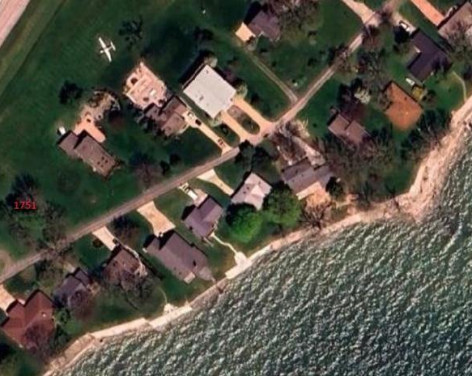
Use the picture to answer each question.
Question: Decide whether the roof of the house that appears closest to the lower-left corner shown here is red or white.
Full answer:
The color of the roof of the house that appears closest to the lower-left corner is red.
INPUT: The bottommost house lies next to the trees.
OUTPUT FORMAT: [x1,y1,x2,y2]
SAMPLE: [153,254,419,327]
[2,294,59,350]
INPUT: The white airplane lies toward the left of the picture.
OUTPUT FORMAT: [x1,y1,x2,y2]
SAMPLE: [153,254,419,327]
[98,38,115,60]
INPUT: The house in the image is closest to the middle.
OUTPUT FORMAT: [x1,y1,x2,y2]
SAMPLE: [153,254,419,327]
[236,174,272,211]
